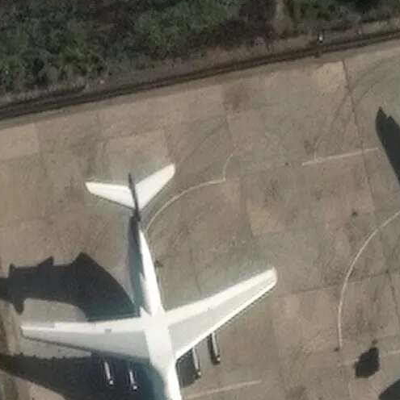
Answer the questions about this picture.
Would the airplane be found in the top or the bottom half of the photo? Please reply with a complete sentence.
It is in the bottom half that the airplane appears.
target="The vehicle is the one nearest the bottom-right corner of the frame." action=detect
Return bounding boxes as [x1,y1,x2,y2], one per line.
[361,348,381,373]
